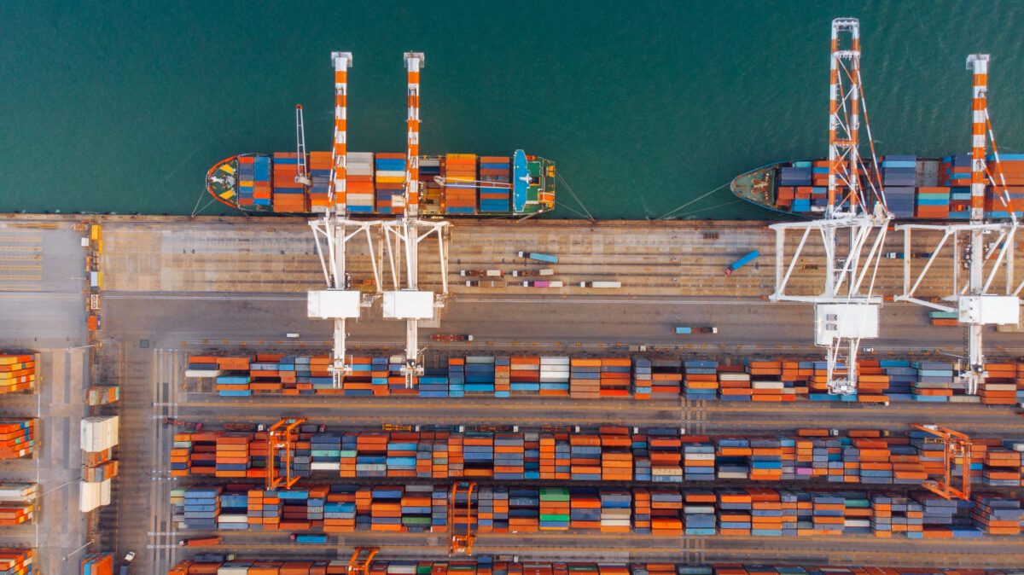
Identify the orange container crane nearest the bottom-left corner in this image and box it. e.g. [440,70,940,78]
[268,417,311,489]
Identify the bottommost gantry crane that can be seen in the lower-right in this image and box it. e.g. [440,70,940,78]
[912,423,972,495]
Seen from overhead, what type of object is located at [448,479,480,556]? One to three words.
container crane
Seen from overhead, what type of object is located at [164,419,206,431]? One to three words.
vehicle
